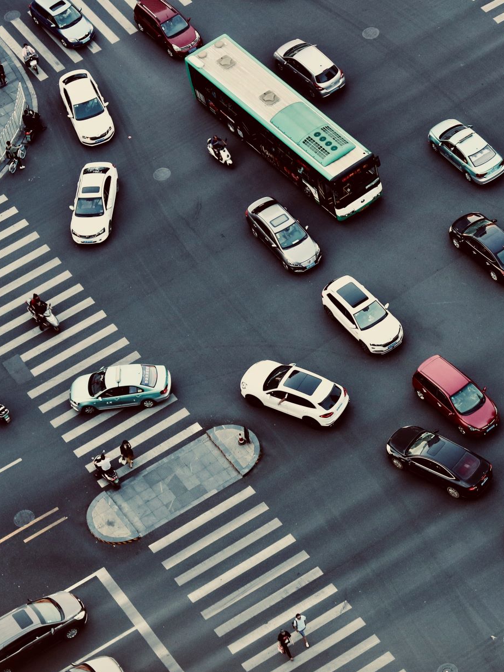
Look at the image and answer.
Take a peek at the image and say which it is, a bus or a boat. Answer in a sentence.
There is a bus in the scene.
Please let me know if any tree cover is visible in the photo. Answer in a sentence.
No, the picture contains no tree cover.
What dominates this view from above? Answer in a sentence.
For the most part, this view shows paved ground.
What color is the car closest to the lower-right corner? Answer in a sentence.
From above, the car closest to the lower-right corner appears black.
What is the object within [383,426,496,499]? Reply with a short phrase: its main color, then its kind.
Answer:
black car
